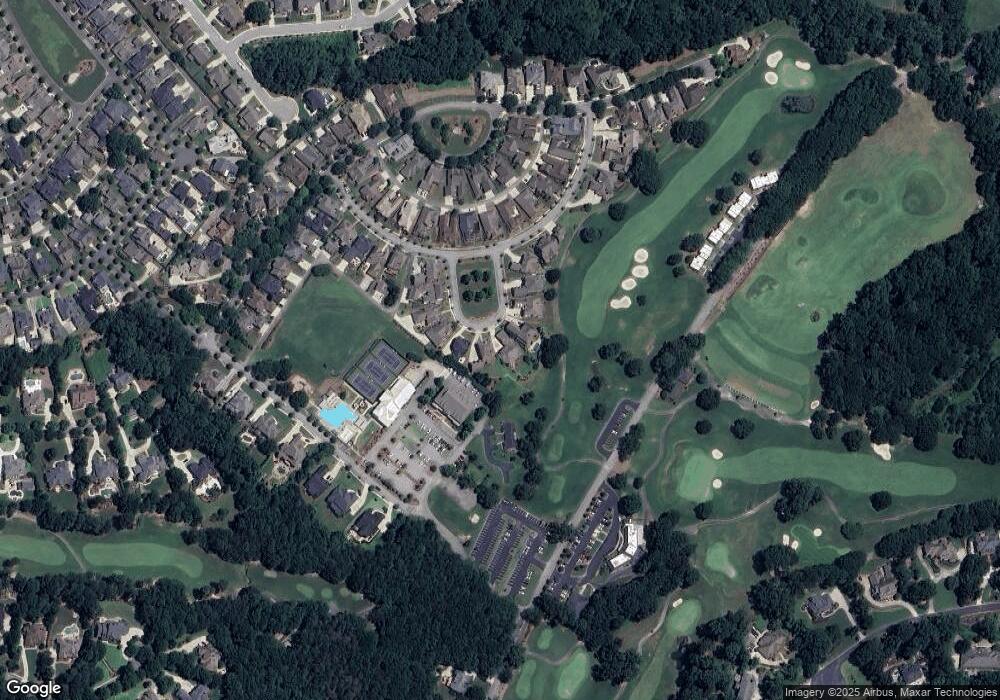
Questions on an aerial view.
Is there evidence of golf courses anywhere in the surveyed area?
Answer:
Yes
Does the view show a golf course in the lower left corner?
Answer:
Yes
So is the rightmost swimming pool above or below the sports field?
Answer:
below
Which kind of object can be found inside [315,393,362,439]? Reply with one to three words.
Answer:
swimming pool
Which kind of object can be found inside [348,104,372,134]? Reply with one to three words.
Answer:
house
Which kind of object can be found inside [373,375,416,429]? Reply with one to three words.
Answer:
building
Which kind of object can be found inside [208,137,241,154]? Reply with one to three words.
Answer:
house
